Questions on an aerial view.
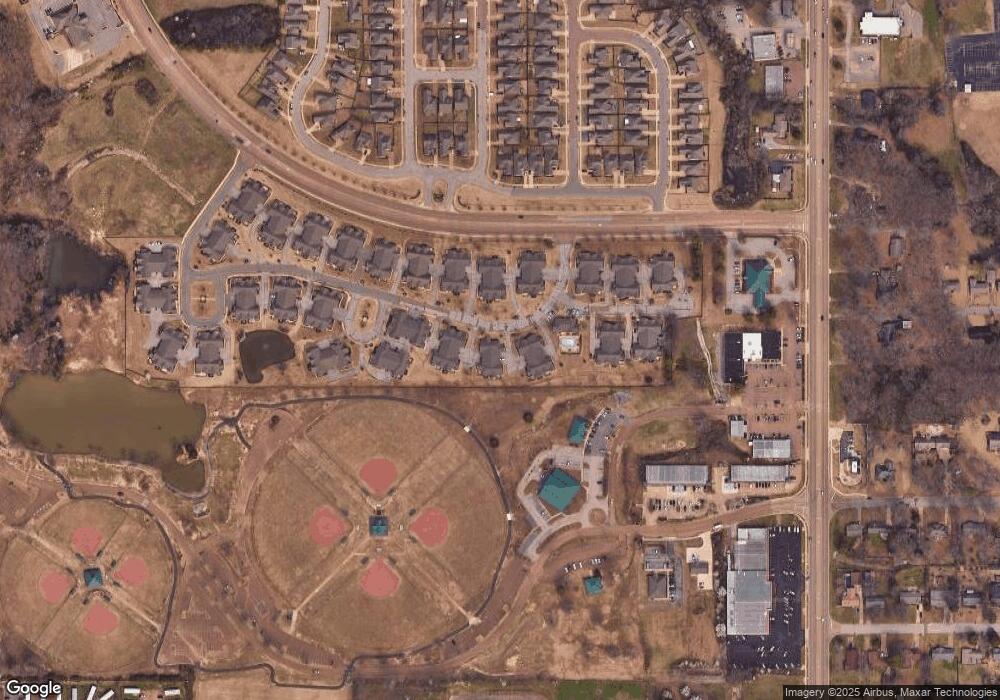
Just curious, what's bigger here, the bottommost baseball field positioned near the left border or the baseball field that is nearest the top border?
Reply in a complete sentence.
Of the two, the baseball field that is nearest the top border is larger and the bottommost baseball field positioned near the left border is the smaller one.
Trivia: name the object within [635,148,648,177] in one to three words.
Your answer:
house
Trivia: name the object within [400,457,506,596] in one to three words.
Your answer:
baseball field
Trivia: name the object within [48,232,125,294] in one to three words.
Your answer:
pond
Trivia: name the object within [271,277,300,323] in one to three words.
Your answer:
building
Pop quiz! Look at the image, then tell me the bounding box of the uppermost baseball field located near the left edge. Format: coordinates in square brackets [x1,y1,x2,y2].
[42,504,127,564]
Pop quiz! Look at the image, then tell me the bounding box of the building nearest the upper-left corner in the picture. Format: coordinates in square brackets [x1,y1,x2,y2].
[50,4,91,46]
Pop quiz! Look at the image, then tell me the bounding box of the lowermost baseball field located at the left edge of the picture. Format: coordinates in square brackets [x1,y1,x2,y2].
[44,595,146,669]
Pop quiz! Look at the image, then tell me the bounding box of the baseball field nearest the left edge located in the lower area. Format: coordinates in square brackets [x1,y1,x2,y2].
[2,540,80,641]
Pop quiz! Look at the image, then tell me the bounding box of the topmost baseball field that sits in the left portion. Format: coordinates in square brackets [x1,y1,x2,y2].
[306,399,450,504]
